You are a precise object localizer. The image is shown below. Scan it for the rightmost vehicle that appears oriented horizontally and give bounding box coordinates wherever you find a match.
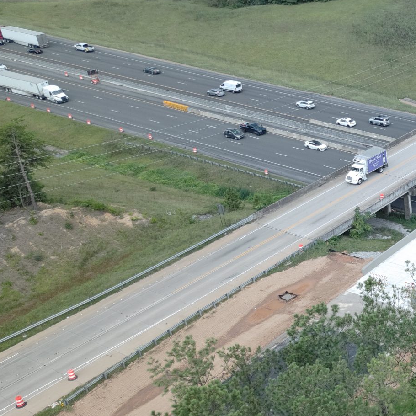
[368,114,393,127]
